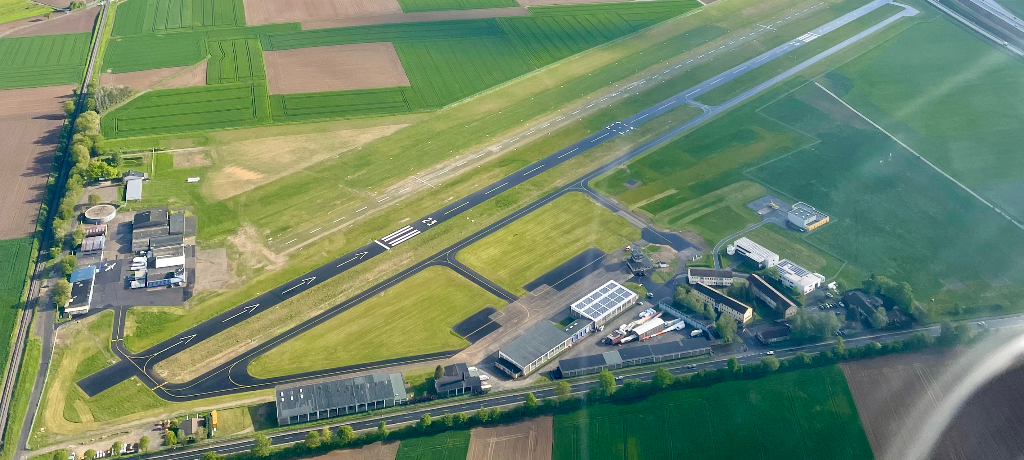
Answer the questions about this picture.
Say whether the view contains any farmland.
Yes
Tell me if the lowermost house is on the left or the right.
left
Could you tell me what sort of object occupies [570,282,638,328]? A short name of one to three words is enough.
hangar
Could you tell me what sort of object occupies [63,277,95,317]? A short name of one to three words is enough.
hangar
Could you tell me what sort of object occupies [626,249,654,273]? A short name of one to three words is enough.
building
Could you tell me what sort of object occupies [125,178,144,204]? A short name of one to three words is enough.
building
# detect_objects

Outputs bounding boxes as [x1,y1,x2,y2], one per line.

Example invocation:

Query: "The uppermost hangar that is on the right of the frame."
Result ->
[787,203,830,231]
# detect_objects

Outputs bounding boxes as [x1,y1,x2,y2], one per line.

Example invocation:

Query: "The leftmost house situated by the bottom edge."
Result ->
[181,416,205,441]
